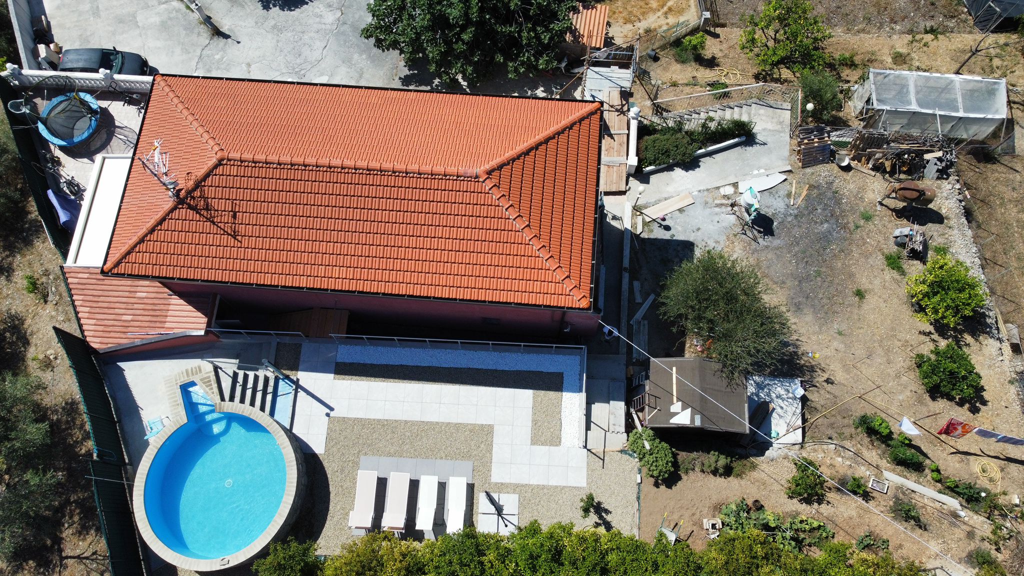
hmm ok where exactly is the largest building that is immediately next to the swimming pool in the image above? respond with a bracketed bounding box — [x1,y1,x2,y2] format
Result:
[97,72,607,346]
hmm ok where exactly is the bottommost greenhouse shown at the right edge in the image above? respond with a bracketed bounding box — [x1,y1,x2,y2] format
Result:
[834,69,1007,143]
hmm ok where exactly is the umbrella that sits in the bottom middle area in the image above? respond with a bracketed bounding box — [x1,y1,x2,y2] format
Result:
[479,491,519,533]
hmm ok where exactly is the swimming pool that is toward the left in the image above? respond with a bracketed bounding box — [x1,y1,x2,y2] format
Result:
[131,366,311,572]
